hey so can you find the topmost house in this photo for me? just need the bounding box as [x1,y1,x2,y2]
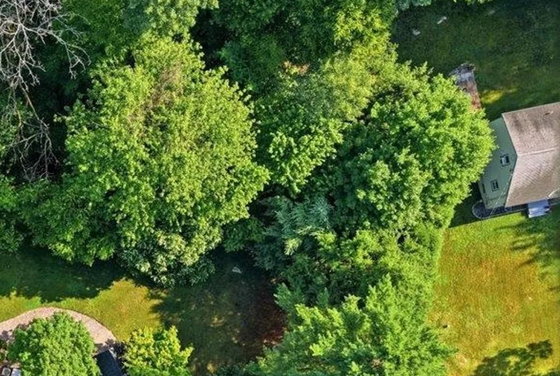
[476,104,560,210]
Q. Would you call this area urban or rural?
rural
